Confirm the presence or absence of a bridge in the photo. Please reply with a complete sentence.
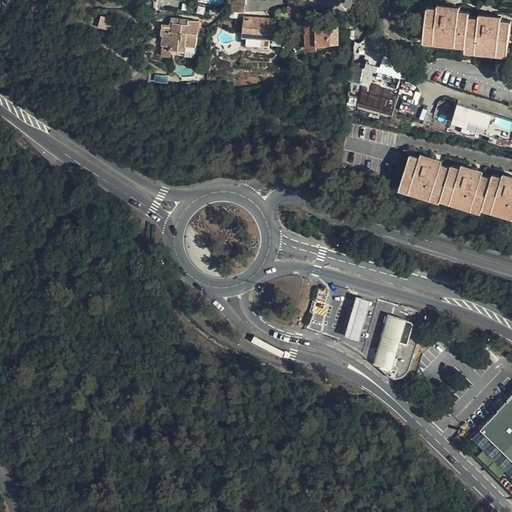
No, the frame has no bridge in it.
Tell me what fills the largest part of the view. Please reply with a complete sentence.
The scene is dominated by trees.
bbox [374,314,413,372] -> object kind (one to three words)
building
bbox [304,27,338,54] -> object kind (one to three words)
house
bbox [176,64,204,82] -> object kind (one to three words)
swimming pool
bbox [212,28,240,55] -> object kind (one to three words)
swimming pool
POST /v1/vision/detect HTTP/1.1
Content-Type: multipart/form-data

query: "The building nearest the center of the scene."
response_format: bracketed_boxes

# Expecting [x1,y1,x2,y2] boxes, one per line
[345,296,372,342]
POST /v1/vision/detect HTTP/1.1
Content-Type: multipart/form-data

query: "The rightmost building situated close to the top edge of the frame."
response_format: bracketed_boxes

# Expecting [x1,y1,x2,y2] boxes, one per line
[420,6,512,60]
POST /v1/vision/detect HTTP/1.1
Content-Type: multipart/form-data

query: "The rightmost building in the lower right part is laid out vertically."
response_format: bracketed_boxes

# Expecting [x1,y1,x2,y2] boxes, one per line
[472,395,512,483]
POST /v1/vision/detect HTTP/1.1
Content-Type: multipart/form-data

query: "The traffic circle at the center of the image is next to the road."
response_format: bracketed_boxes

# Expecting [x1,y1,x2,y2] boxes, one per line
[164,182,280,297]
